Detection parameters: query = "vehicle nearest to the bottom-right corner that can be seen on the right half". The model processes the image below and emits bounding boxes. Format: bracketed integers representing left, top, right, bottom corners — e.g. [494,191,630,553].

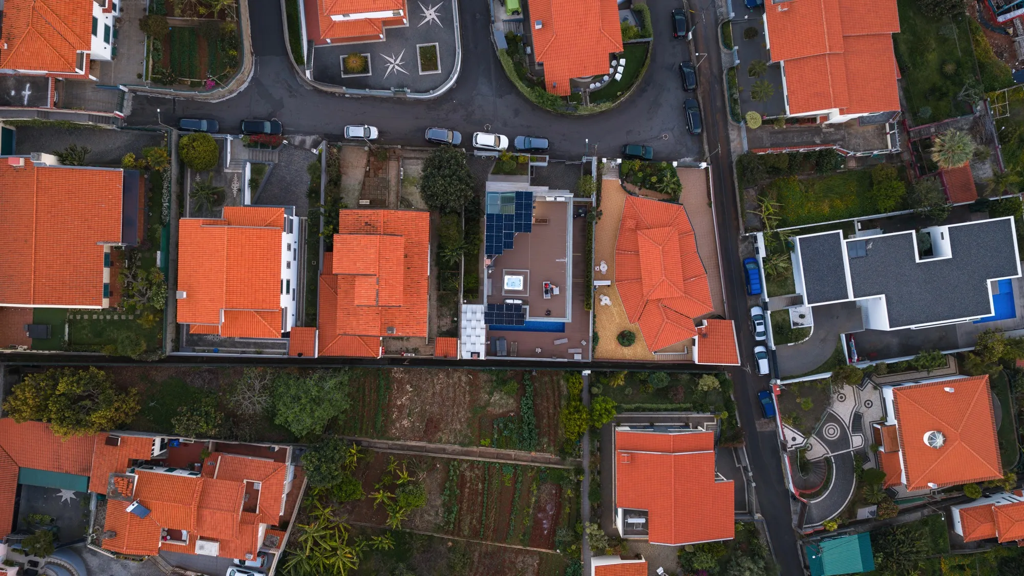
[755,387,776,421]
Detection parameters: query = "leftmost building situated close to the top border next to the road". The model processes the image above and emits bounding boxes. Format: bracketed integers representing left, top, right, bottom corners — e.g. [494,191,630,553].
[0,0,113,85]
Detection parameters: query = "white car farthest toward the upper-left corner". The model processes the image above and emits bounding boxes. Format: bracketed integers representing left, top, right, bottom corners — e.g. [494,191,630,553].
[345,124,379,141]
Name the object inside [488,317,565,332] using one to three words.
swimming pool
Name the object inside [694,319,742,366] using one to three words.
building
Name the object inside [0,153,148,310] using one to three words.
house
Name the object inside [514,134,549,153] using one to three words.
car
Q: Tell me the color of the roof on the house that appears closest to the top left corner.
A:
orange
